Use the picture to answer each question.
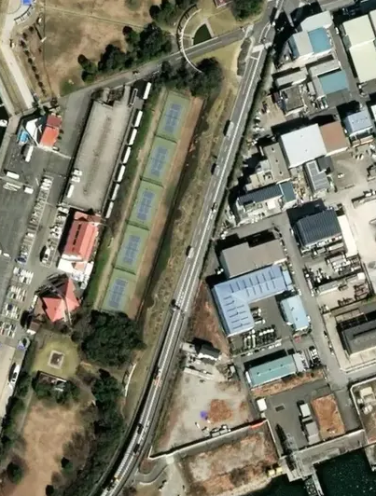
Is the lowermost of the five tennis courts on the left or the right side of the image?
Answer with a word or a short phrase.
left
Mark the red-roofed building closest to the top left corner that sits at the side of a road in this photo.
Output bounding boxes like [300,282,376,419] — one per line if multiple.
[38,114,62,149]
